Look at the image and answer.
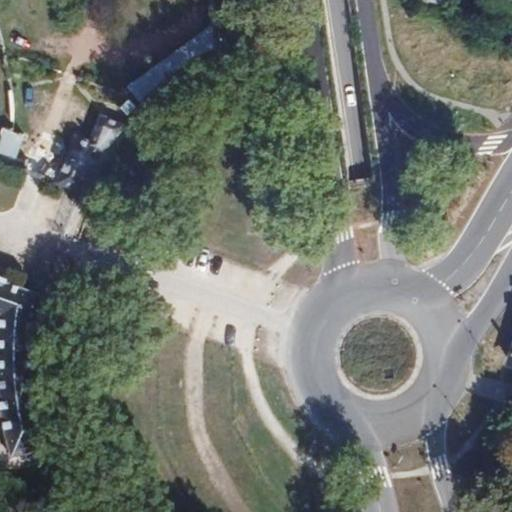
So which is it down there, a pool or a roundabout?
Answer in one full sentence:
I can see a roundabout in this picture.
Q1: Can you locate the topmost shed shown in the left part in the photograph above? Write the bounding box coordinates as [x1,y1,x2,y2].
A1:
[128,26,214,100]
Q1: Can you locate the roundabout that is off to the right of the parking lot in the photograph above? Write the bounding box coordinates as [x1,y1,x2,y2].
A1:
[291,258,468,452]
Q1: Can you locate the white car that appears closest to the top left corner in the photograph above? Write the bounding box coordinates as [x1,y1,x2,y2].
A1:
[12,34,32,51]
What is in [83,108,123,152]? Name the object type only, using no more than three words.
house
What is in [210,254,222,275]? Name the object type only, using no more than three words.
vehicle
